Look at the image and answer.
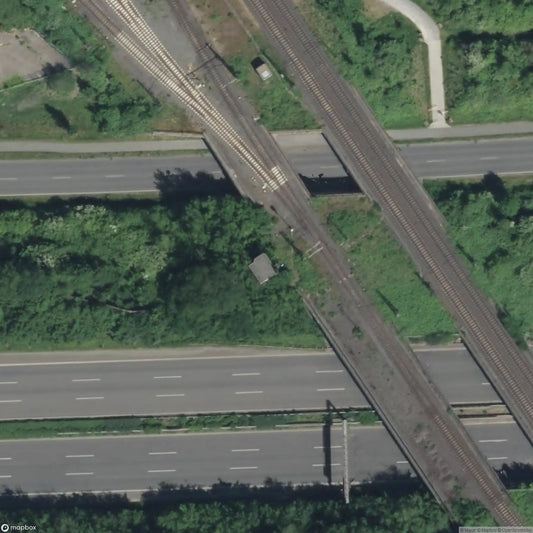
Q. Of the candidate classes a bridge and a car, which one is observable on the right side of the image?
bridge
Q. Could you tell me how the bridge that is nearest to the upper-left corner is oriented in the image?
on a diagonal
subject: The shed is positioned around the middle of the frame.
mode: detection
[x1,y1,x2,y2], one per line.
[249,255,275,283]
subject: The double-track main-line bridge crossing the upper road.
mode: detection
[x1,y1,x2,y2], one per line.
[320,124,423,195]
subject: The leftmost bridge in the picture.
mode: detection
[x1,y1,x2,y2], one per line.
[204,128,310,200]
